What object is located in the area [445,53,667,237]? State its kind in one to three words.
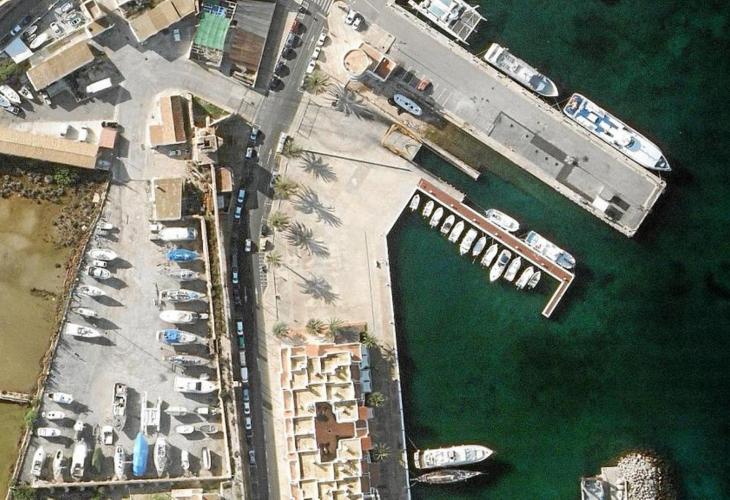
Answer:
pier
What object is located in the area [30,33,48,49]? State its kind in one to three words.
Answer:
boat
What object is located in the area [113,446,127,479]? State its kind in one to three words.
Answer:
boat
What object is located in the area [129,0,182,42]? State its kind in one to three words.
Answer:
building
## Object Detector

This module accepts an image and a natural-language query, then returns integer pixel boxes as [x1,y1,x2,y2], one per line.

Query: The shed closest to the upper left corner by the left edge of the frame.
[6,36,34,64]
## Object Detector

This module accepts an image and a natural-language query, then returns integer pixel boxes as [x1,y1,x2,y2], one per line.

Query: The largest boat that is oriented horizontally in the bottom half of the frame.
[415,444,494,471]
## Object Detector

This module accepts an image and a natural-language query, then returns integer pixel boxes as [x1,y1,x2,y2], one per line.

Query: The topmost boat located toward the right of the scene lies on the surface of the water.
[409,0,484,42]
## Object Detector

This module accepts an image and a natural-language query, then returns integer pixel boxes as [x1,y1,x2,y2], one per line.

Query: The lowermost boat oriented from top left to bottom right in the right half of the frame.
[526,229,576,268]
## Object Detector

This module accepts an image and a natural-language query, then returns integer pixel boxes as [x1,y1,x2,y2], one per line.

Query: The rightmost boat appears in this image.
[563,91,673,170]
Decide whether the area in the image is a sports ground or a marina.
marina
